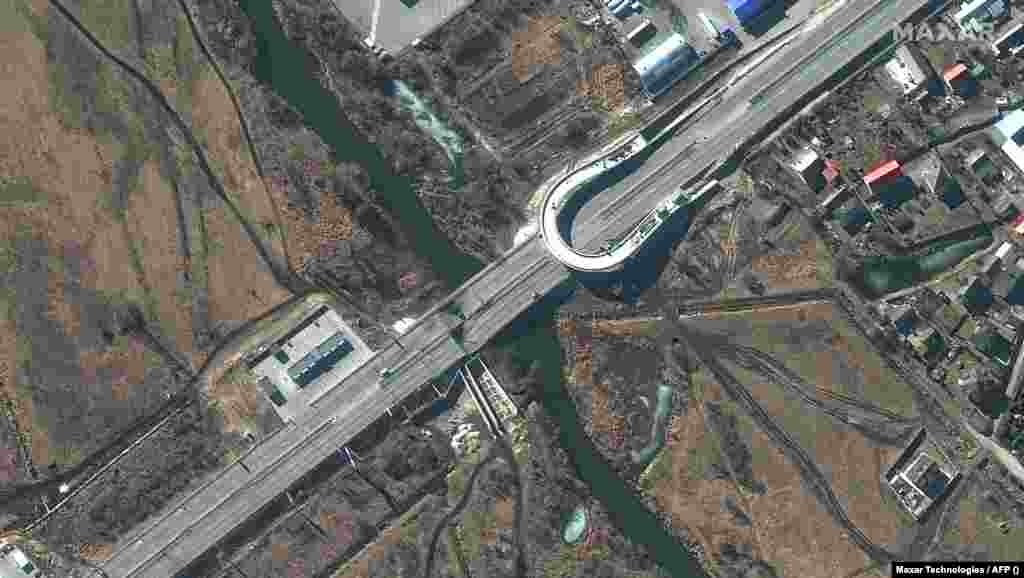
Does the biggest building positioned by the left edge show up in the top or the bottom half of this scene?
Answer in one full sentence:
The biggest building positioned by the left edge is in the bottom half of the image.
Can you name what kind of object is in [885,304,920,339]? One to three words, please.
house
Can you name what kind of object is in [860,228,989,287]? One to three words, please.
pond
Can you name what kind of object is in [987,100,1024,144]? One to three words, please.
building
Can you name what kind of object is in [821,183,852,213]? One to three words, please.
house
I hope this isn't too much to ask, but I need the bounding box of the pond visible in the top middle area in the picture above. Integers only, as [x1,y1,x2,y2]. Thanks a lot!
[388,74,466,184]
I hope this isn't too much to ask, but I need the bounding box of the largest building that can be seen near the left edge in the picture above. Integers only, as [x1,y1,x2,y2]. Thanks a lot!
[4,540,35,572]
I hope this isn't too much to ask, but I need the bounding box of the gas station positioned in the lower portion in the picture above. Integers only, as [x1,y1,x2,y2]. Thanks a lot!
[289,329,357,388]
